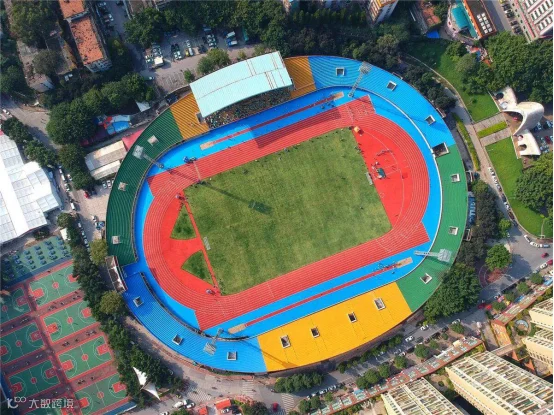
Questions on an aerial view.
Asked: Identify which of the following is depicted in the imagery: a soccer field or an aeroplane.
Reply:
soccer field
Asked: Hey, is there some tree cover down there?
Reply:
Yes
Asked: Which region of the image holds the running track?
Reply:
center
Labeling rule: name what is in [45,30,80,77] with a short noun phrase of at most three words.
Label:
house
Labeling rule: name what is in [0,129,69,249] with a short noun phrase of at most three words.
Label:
building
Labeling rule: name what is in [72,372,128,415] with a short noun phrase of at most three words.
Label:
basketball court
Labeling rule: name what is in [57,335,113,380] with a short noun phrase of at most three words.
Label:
basketball court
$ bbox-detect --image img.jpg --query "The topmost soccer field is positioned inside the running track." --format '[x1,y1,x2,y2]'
[170,127,391,295]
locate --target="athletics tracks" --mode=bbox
[143,94,431,330]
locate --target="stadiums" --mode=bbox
[105,51,470,374]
